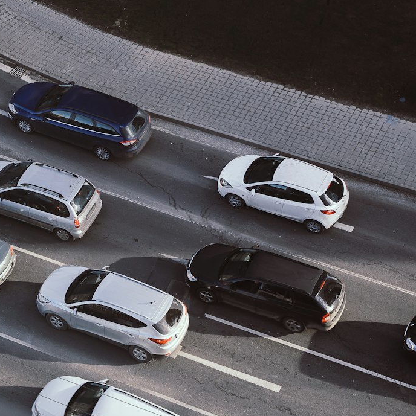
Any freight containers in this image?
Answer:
No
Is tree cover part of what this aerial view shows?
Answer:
No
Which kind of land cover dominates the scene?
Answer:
paved ground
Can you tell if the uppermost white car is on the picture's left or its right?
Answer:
right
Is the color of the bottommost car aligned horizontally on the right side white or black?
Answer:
black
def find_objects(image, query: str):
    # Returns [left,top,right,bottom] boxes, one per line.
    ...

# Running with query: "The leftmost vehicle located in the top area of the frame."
[9,76,155,161]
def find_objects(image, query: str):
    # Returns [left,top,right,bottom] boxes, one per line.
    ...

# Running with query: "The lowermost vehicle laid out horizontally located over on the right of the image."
[189,240,353,333]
